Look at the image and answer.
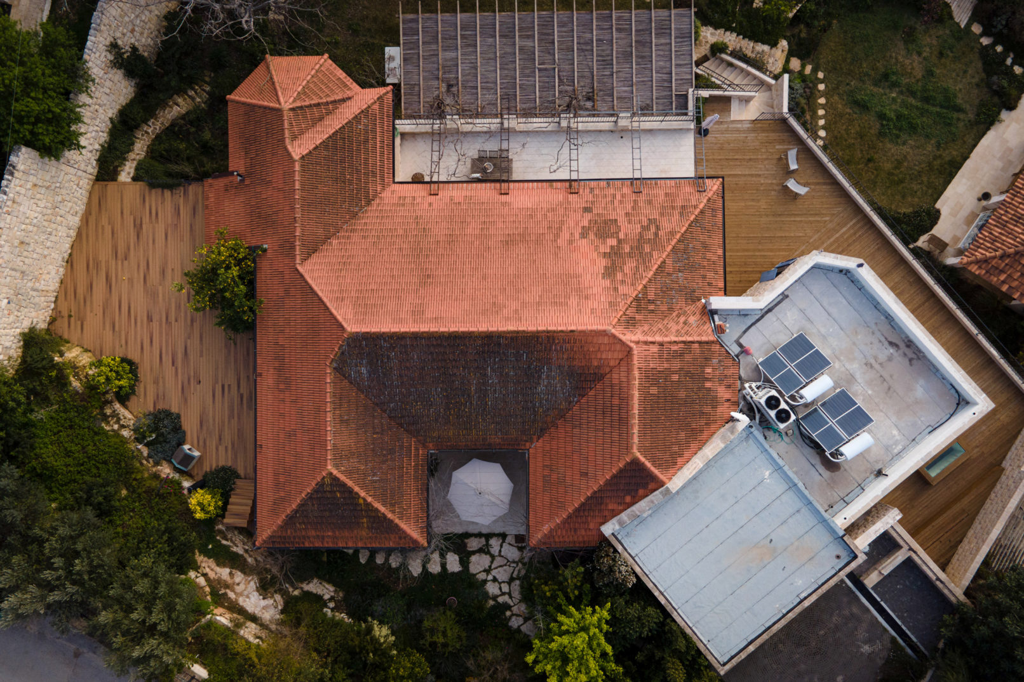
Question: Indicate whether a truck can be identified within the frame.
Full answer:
No, there's no truck here.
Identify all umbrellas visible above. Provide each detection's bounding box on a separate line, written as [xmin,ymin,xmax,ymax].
[448,458,513,525]
[699,114,720,138]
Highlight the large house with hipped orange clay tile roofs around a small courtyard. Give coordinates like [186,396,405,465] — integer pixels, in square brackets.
[201,53,740,550]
